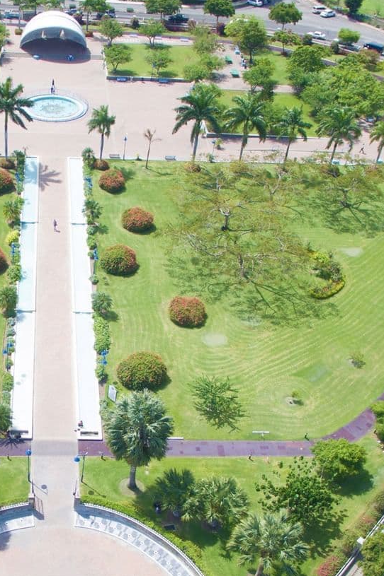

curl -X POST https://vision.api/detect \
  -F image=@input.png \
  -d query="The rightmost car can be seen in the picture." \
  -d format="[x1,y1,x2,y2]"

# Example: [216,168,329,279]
[362,39,384,51]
